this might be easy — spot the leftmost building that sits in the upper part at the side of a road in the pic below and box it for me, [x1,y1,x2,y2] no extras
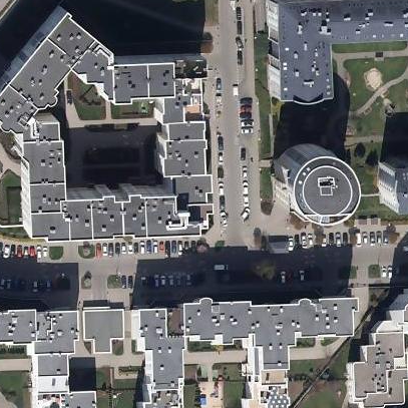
[0,8,214,242]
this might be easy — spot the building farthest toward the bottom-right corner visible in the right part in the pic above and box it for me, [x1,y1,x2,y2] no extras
[340,323,408,407]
